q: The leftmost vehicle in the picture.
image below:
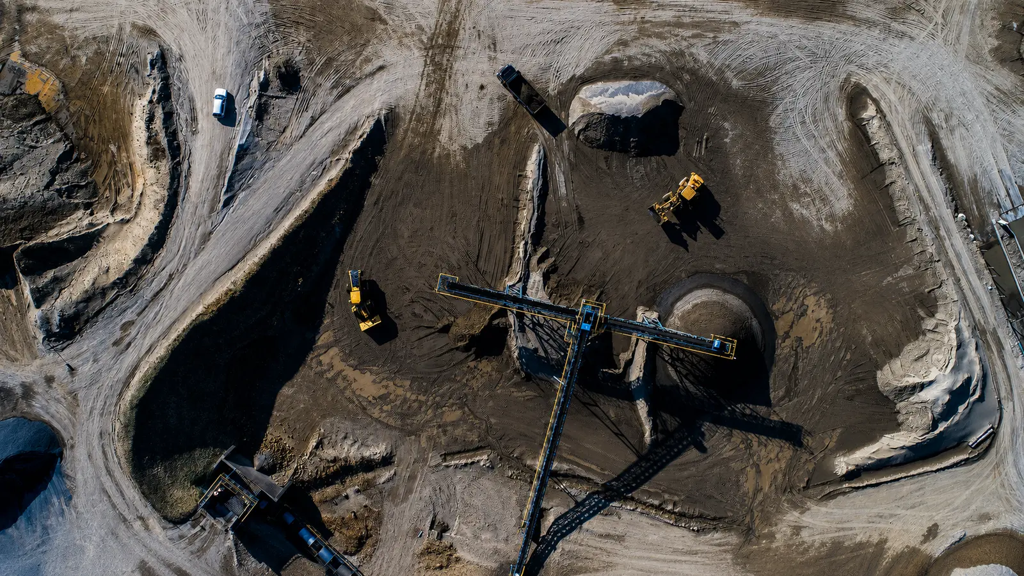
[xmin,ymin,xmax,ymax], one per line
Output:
[211,88,230,120]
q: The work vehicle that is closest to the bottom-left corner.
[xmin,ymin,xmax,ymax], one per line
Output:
[346,273,383,335]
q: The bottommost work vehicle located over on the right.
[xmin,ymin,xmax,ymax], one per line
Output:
[645,171,705,231]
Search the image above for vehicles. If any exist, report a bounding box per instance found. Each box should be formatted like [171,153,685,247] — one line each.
[645,171,705,231]
[346,273,383,335]
[496,59,548,116]
[211,88,230,120]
